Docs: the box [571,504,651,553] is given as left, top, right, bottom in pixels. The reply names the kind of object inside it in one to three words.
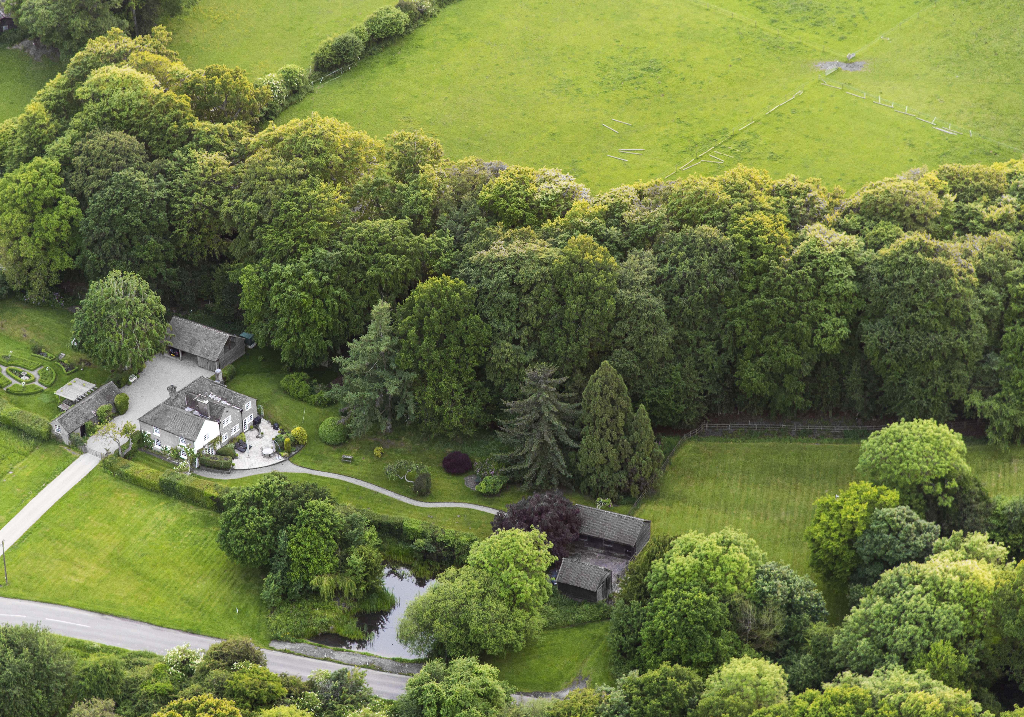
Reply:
building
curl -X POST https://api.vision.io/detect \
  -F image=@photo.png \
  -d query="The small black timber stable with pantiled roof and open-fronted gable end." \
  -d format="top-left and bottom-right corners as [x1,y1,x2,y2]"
[556,561,612,600]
